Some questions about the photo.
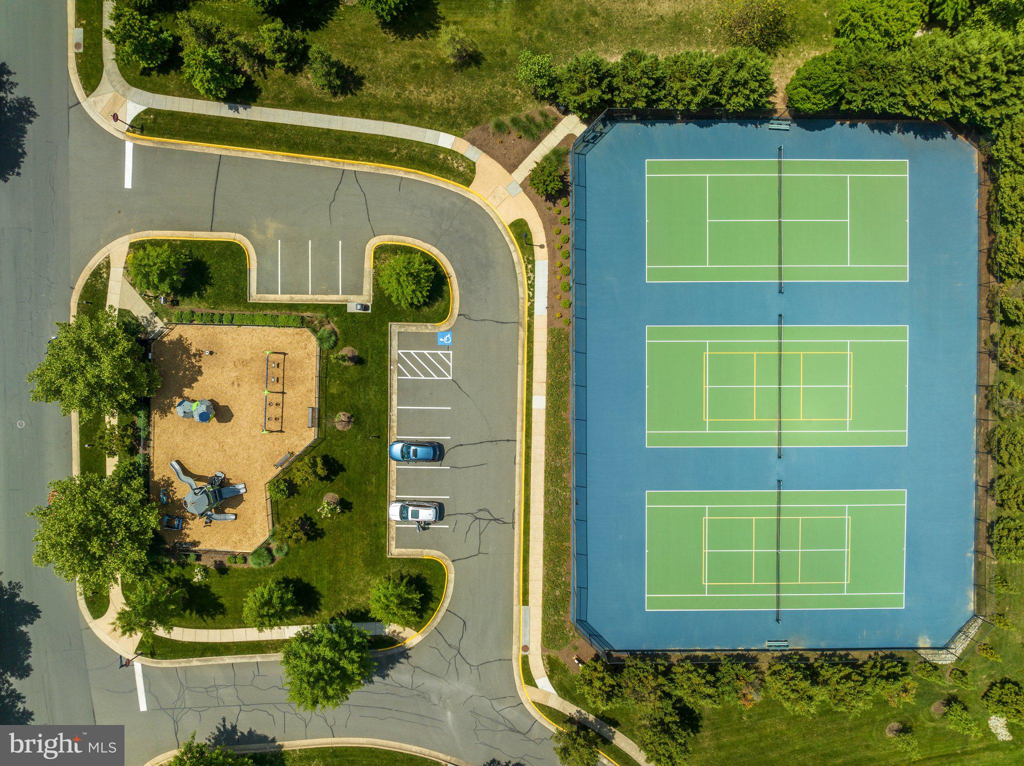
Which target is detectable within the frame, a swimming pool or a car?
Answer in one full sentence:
The one in the frame is a car.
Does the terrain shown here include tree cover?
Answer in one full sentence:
Yes, some tree cover is visible.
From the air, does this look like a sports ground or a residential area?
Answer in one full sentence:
This image shows a sports ground.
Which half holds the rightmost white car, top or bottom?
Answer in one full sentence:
The bottom half of the photo is where the rightmost white car is.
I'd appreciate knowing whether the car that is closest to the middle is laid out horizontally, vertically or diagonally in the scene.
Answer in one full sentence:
What the image shows is the car that is closest to the middle lying horizontally.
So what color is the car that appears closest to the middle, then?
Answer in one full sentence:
The car that appears closest to the middle is blue.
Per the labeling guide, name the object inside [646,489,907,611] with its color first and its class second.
green tennis court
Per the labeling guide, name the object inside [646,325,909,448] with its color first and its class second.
green tennis court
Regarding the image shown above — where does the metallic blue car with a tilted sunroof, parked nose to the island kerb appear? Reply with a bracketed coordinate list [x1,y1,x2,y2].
[389,439,440,464]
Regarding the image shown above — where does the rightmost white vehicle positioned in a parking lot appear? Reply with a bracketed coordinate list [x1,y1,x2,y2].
[388,500,439,533]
